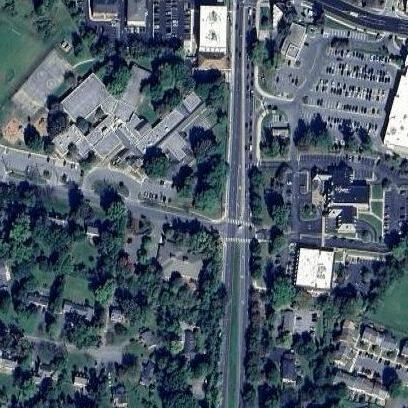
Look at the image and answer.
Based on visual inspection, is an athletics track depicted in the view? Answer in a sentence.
No, the picture doesn't show any athletics track.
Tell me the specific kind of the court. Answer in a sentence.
Looking closely, the court is a basketball court.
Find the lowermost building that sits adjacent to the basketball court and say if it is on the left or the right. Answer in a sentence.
It is on the left.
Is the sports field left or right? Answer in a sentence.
The sports field sits on the left side.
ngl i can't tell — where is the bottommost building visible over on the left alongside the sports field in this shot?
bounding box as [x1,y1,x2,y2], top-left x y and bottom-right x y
[54,74,213,172]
